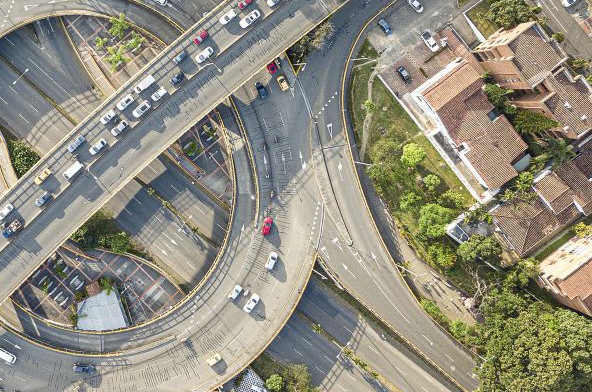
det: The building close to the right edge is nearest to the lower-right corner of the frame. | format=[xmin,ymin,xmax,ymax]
[526,244,592,319]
